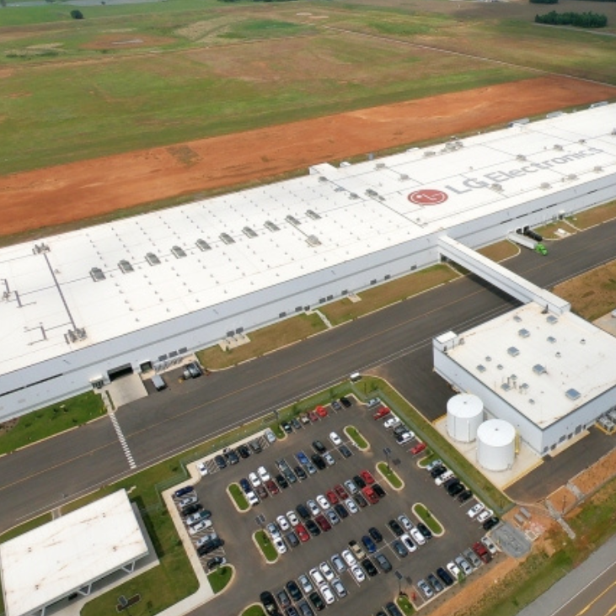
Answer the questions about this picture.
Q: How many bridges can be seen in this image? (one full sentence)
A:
I count 1 bridge.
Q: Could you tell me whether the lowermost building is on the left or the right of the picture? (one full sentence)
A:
You can find the lowermost building on the left side of the picture.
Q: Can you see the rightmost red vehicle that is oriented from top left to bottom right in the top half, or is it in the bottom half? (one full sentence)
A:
You can find the rightmost red vehicle that is oriented from top left to bottom right in the bottom half.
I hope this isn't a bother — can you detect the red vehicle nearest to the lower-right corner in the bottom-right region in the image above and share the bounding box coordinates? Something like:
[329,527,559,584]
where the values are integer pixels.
[471,541,492,563]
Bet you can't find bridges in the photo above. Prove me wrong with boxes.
[435,235,572,317]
